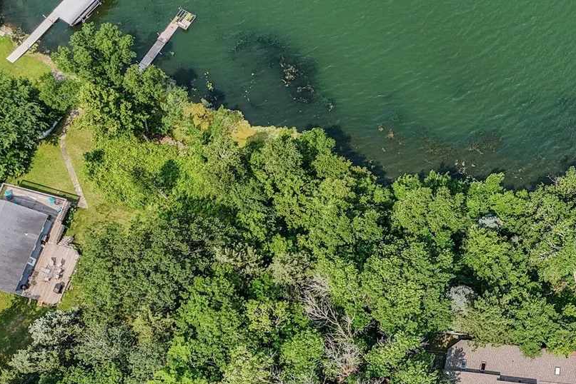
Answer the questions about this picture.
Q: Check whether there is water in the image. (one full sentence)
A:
Yes, water can be seen from above here.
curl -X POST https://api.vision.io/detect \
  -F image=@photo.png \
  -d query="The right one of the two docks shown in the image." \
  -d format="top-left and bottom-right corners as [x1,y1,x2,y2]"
[134,3,199,69]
